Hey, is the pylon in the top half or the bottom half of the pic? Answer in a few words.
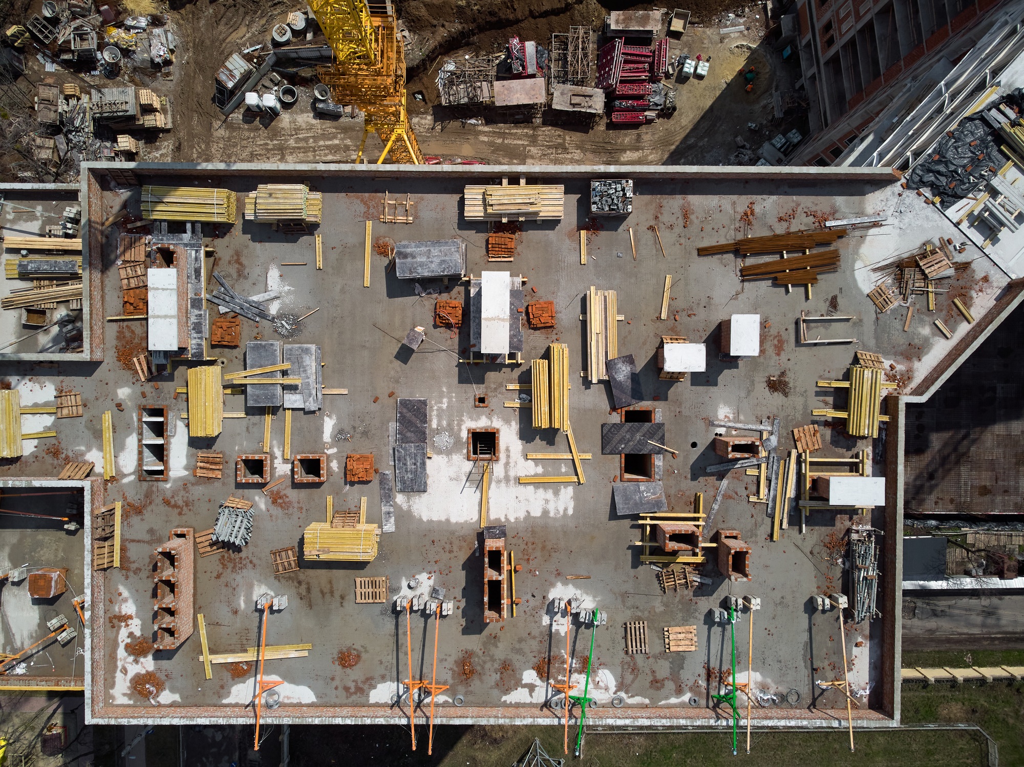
bottom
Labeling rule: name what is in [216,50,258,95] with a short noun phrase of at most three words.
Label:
shed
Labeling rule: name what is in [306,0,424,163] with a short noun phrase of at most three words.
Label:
crane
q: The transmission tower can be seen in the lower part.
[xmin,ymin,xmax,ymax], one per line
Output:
[512,738,564,767]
